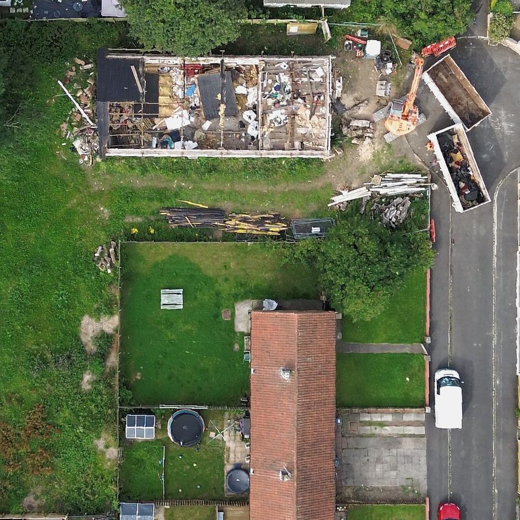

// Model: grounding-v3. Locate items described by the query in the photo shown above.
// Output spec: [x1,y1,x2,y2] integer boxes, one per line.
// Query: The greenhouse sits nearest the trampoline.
[125,414,155,439]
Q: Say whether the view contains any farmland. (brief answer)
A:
No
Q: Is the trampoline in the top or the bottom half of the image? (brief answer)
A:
bottom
